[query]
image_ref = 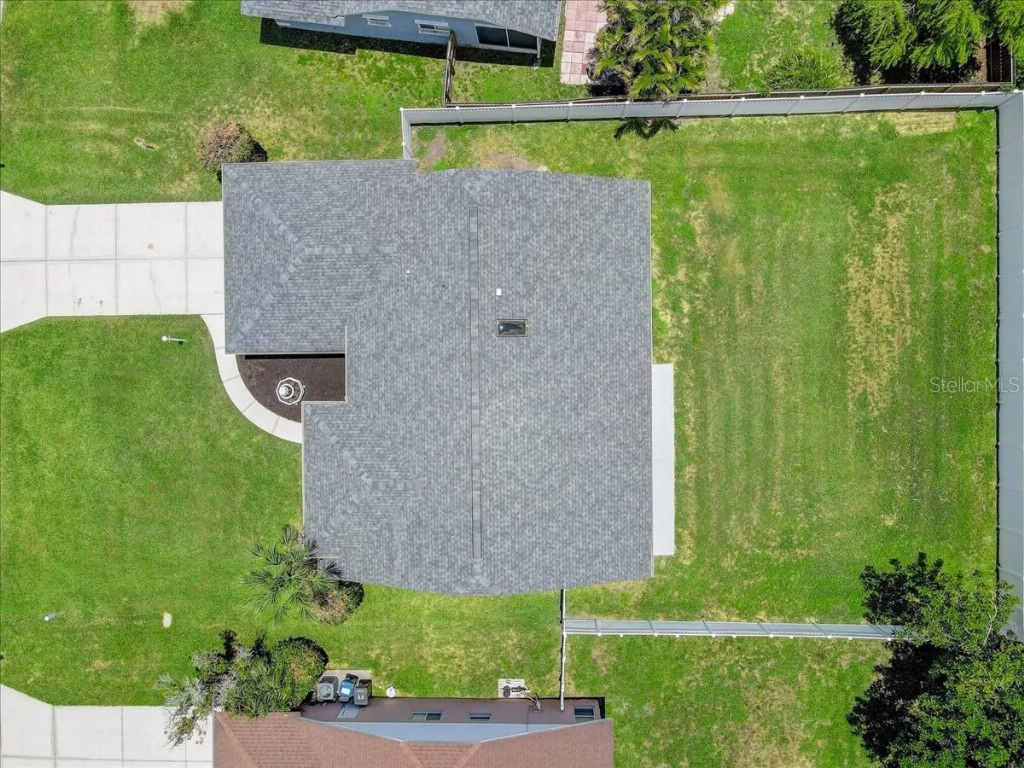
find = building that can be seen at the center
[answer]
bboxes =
[222,162,653,595]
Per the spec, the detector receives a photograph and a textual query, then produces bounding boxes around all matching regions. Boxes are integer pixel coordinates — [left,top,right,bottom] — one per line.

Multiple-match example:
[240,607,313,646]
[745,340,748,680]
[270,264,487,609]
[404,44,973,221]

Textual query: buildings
[241,0,562,74]
[222,162,653,595]
[213,693,613,768]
